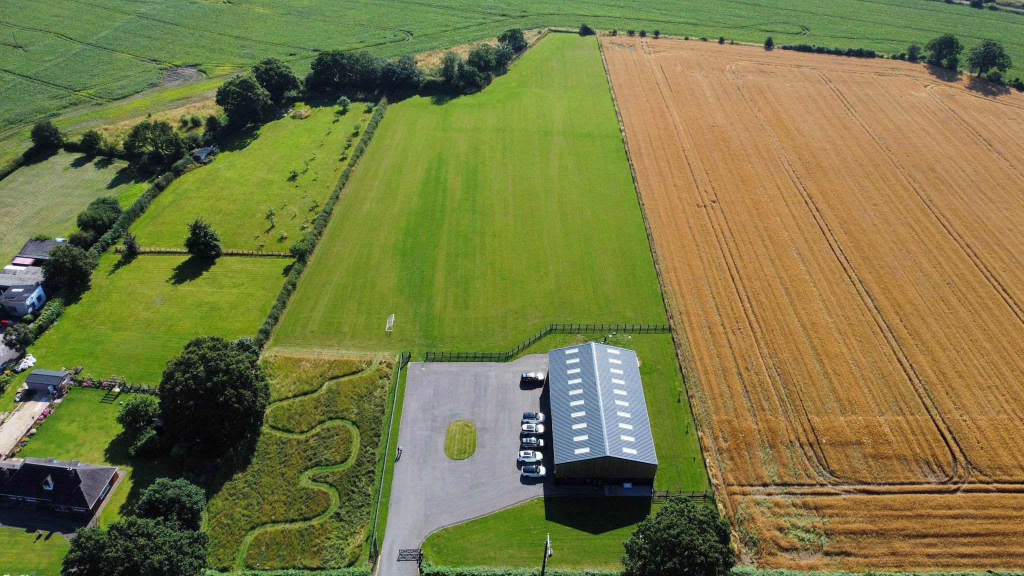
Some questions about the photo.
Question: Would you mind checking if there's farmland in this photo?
Yes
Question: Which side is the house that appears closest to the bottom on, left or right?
left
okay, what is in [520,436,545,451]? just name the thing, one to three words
car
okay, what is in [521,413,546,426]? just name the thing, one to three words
vehicle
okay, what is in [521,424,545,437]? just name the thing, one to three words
vehicle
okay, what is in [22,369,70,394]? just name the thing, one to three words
shed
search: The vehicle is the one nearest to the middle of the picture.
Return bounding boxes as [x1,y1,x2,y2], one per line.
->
[521,373,544,385]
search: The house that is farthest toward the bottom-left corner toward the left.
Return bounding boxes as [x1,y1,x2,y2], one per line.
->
[0,454,119,516]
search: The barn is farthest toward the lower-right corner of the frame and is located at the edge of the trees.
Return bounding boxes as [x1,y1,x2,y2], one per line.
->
[548,345,658,482]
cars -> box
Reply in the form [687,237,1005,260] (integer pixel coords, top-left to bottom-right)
[521,424,545,437]
[521,413,546,426]
[0,320,15,329]
[518,451,542,464]
[521,373,544,385]
[520,436,545,451]
[520,465,547,479]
